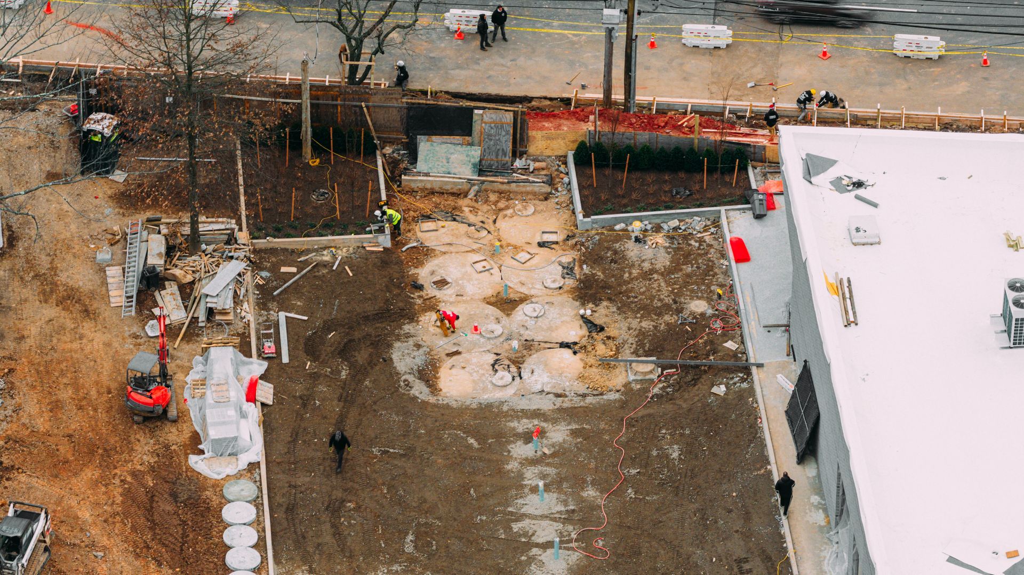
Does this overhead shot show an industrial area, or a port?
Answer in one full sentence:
This looks like an industrial area.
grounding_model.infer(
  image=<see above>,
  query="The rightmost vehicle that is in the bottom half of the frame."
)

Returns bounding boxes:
[123,308,183,425]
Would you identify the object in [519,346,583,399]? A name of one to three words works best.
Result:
storage tank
